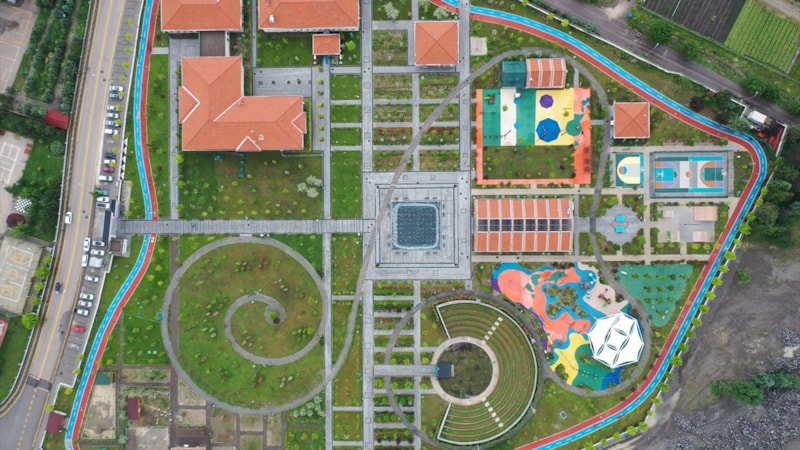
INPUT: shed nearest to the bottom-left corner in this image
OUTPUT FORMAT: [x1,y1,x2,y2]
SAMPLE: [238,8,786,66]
[47,410,70,434]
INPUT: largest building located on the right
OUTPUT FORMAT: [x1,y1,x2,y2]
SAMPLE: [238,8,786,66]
[475,198,576,252]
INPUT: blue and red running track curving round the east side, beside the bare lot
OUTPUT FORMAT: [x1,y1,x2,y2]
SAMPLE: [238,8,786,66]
[425,0,770,450]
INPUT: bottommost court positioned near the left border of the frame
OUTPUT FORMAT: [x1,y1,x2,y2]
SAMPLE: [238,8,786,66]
[0,234,43,314]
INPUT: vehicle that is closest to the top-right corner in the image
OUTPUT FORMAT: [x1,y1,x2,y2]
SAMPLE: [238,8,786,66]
[752,108,775,125]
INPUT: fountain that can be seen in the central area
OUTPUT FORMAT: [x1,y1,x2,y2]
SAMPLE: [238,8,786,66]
[376,183,459,267]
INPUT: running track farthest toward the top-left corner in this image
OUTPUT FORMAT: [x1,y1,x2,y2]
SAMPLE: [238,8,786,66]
[66,0,160,438]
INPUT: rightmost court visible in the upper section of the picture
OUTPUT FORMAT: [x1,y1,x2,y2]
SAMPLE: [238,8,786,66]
[651,152,731,198]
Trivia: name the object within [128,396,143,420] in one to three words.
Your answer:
shed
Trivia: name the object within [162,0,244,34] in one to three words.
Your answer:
house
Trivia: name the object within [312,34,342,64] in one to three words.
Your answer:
building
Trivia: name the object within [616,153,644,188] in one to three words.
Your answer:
basketball court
